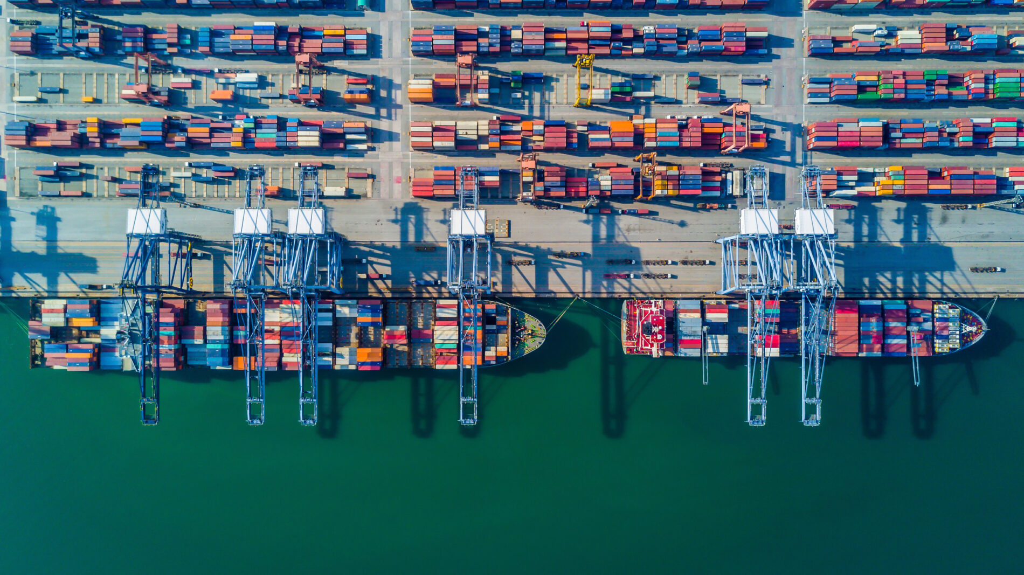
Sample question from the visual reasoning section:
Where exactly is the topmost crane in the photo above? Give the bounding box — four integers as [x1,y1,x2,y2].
[51,0,97,58]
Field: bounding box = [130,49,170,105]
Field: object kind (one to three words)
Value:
container crane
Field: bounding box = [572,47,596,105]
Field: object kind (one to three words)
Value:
container crane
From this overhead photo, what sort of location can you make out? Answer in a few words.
port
